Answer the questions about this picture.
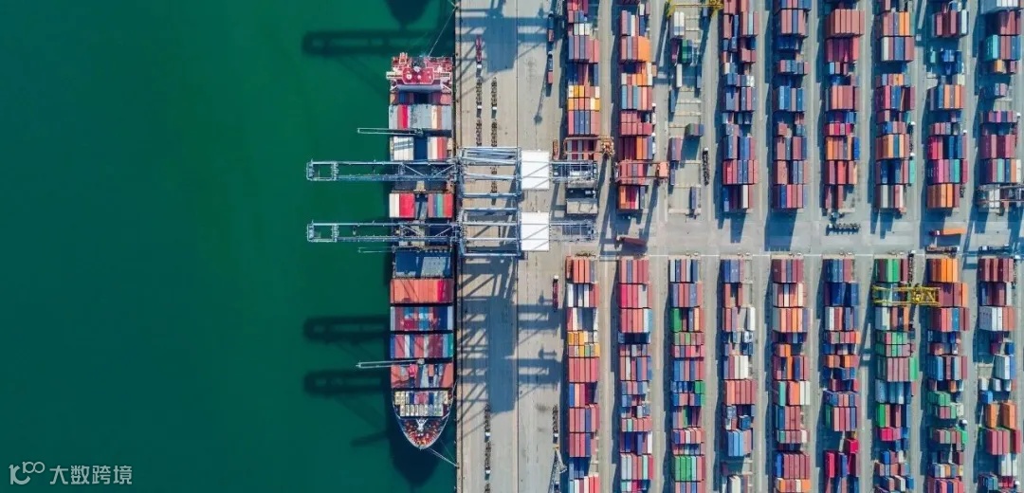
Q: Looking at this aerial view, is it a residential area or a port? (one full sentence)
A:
The picture captures a port.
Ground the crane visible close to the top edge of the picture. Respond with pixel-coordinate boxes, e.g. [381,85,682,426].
[661,0,723,24]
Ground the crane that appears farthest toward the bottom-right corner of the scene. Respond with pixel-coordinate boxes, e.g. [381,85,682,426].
[870,281,943,308]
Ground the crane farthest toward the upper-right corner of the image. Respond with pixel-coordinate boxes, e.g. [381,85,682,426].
[972,183,1024,209]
